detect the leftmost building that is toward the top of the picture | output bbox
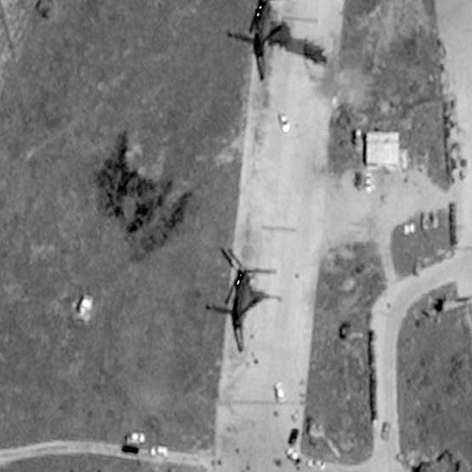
[366,131,400,173]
